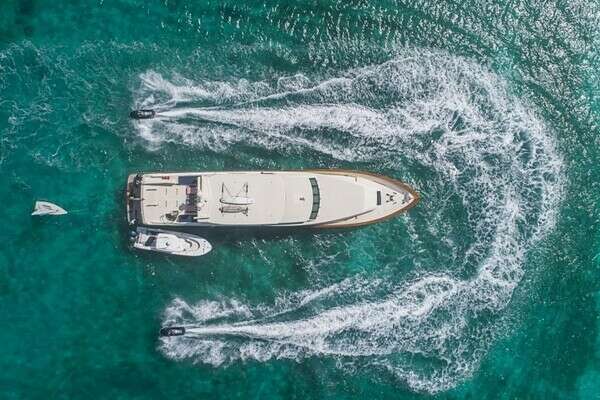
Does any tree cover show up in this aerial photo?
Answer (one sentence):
No, the scene doesn't show any tree cover.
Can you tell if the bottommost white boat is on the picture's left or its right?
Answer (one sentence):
The bottommost white boat sits on the left side.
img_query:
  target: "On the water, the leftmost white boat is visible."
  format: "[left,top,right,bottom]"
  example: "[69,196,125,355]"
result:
[127,230,211,256]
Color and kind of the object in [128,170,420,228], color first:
white boat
